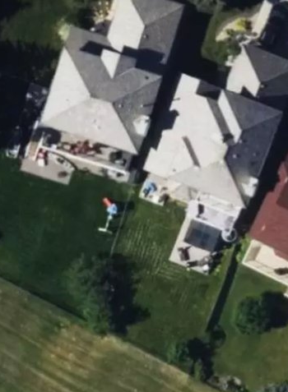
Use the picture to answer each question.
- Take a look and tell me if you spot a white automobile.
No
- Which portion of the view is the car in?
top right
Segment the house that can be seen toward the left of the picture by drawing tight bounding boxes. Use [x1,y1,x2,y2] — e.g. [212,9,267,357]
[26,0,185,173]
